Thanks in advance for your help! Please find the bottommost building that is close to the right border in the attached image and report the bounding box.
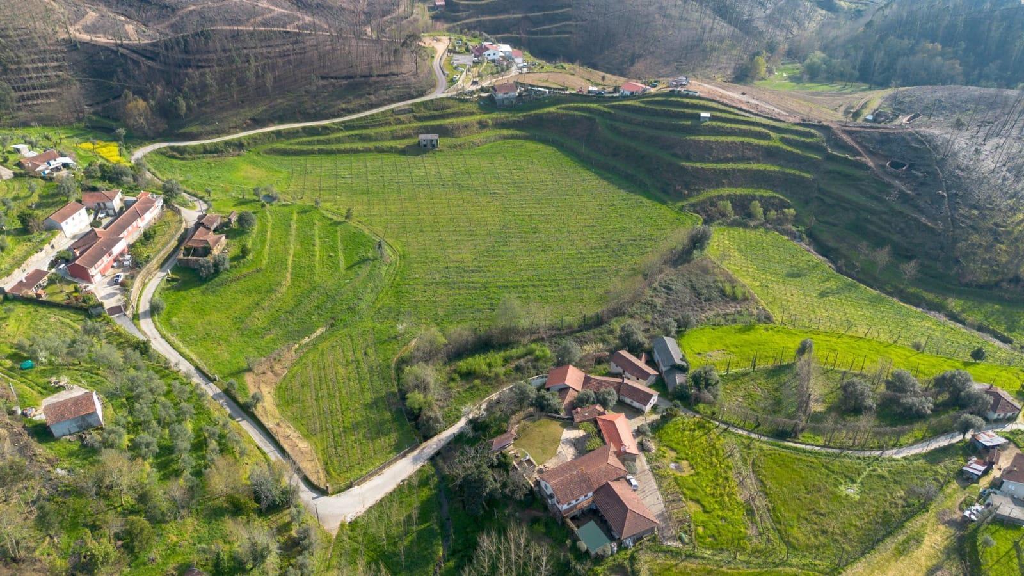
[990,485,1024,538]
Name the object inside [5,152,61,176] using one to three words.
house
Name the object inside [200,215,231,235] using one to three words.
barn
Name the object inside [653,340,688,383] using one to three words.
barn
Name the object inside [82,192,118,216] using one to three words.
house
